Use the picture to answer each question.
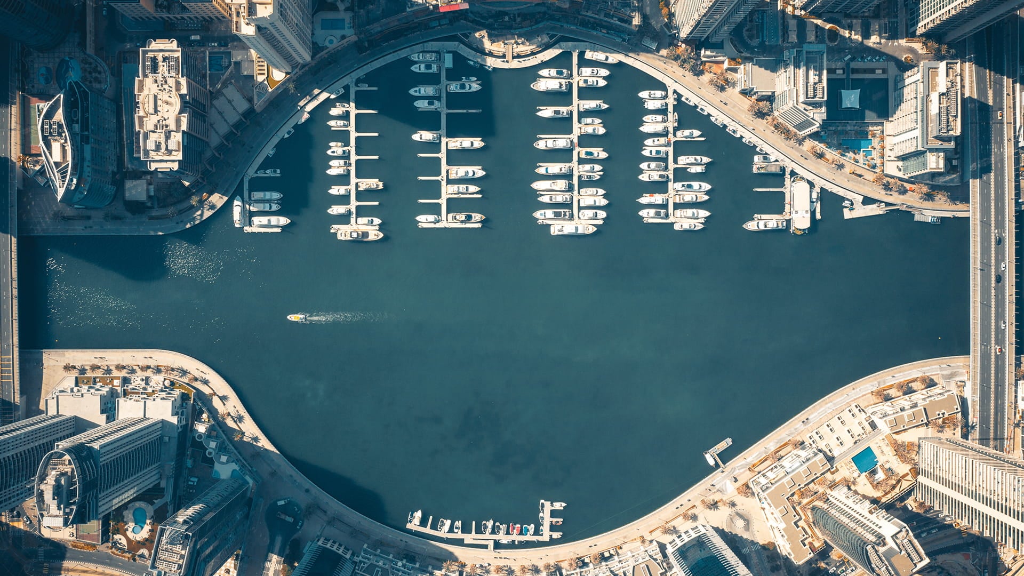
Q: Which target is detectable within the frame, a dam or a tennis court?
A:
tennis court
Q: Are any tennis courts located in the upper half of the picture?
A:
Yes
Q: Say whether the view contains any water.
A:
Yes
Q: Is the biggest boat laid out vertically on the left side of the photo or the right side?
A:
right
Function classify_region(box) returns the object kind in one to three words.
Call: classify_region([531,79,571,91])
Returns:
boat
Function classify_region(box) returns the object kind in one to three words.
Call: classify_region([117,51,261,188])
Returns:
building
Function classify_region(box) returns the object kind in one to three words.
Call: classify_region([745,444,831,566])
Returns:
building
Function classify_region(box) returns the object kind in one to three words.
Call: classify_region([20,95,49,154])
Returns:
tennis court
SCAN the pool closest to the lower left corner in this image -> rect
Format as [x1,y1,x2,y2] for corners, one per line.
[132,507,147,534]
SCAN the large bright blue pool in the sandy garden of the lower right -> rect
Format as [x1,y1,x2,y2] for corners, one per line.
[850,444,880,476]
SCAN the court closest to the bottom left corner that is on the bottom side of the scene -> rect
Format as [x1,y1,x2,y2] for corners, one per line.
[75,518,104,544]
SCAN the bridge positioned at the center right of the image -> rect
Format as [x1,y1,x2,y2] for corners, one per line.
[968,19,1018,576]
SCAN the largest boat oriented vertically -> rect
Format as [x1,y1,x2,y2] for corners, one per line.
[789,177,810,235]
